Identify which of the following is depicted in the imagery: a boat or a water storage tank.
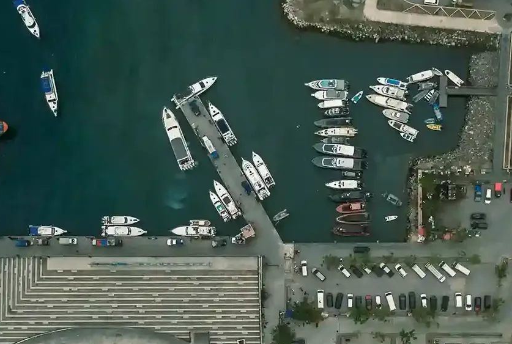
boat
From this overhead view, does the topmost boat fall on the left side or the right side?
left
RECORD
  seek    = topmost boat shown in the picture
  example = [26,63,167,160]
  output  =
[15,0,41,39]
